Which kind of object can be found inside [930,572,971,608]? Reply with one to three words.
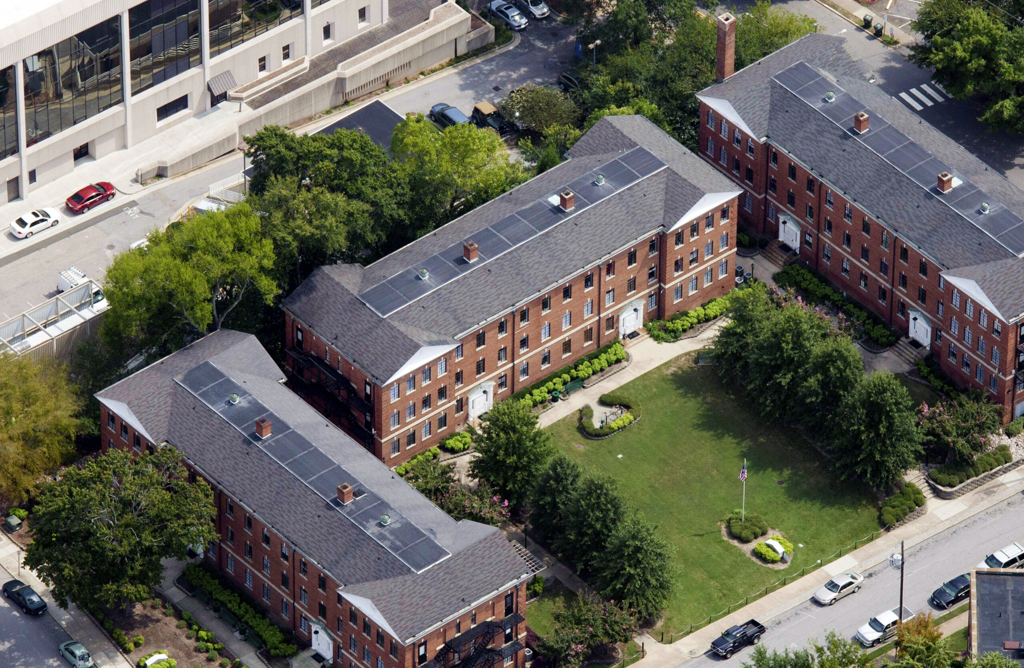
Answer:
car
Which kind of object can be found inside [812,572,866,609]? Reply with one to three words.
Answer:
car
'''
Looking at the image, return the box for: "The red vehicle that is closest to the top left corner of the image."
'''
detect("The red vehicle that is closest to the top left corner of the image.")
[65,185,116,218]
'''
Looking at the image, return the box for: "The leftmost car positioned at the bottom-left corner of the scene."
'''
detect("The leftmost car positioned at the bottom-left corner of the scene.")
[0,582,49,620]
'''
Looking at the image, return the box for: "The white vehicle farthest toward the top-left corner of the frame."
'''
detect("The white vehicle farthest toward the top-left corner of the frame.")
[9,210,61,243]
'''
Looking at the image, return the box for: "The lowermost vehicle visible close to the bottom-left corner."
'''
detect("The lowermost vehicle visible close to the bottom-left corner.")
[57,641,96,668]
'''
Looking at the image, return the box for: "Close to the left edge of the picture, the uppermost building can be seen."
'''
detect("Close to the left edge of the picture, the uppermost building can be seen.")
[0,0,388,209]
